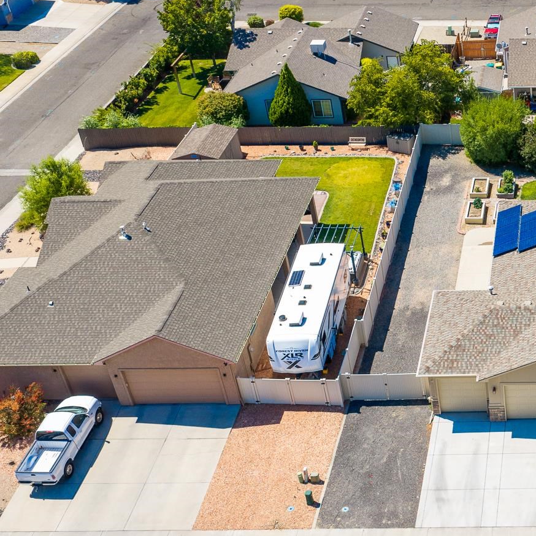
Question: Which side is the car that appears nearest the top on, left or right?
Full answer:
The car that appears nearest the top is on the right side of the image.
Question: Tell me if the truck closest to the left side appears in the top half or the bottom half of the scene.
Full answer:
It is in the bottom half that the truck closest to the left side appears.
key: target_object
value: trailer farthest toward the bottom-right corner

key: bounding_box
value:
[266,245,351,376]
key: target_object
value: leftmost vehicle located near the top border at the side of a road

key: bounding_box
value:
[482,5,505,36]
